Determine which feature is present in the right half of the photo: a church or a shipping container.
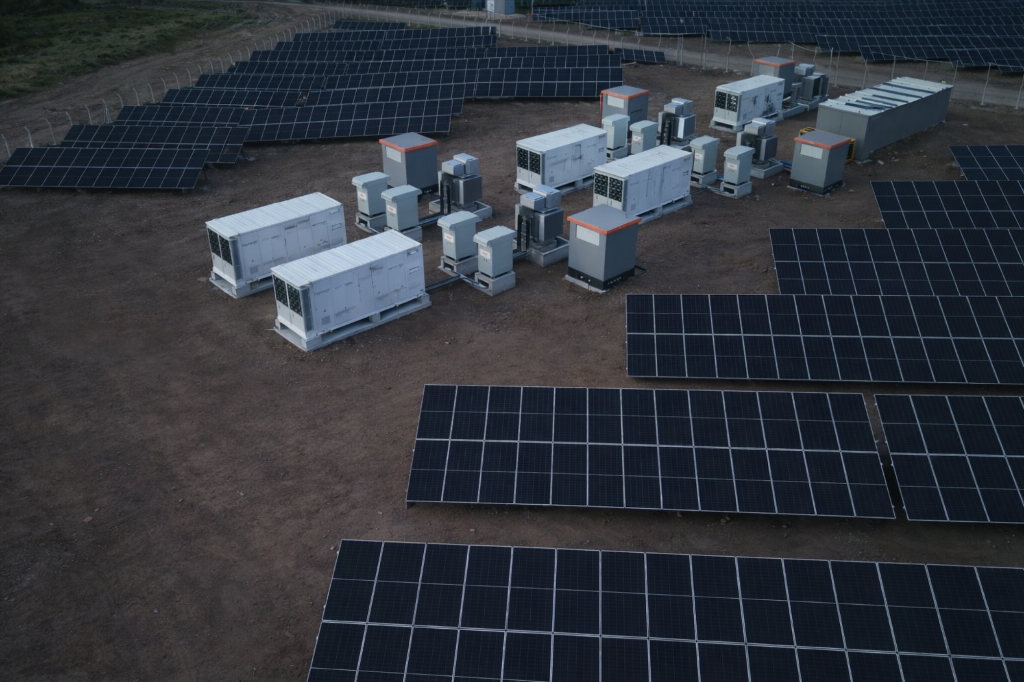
shipping container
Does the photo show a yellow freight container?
No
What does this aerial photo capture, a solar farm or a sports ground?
solar farm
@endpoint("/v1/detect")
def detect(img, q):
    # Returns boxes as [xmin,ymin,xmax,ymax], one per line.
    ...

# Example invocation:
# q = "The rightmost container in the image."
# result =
[814,76,955,161]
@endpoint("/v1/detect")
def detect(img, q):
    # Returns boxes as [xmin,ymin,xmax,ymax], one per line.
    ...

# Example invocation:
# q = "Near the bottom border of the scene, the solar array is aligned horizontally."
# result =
[308,540,1024,682]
